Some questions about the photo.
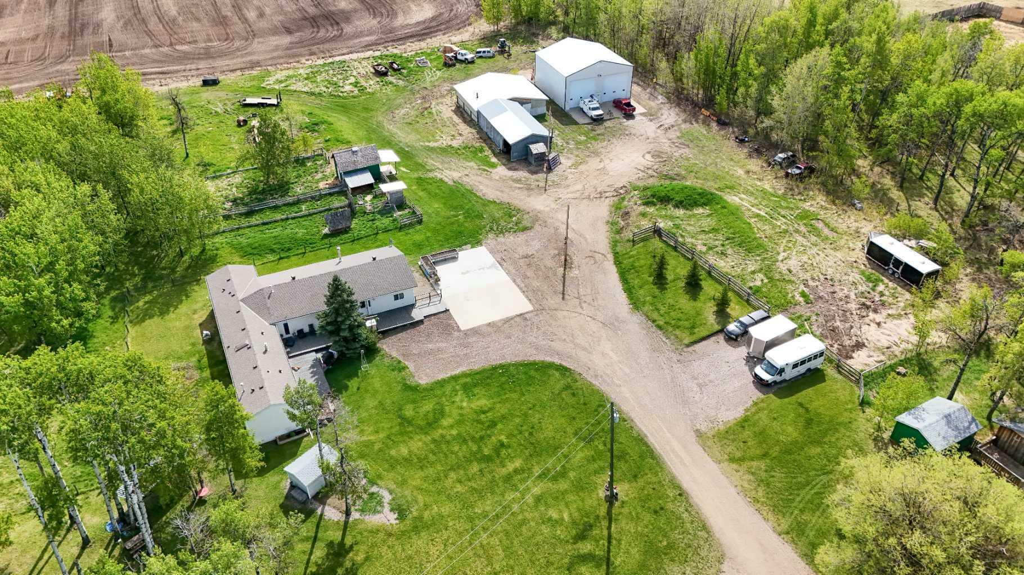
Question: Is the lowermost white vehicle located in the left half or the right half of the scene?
right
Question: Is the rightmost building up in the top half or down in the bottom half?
bottom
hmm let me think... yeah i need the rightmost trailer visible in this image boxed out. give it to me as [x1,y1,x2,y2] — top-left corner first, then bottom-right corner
[861,234,941,288]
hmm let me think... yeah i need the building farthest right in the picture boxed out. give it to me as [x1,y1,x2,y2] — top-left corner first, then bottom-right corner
[973,406,1024,481]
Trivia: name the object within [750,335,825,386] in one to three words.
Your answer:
vehicle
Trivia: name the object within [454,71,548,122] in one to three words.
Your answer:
barn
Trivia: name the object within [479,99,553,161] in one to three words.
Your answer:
shed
